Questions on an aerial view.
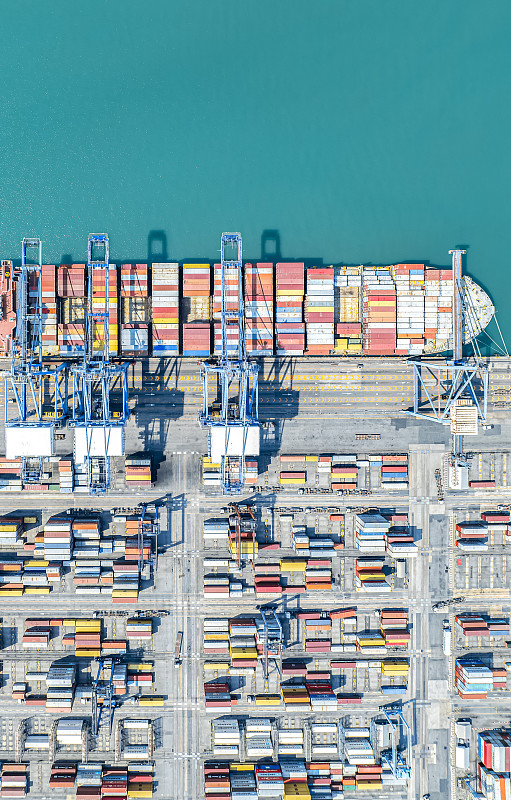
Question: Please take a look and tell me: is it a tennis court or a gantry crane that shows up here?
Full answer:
I can see a gantry crane in this picture.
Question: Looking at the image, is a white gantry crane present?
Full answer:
Yes, the picture does show a white gantry crane.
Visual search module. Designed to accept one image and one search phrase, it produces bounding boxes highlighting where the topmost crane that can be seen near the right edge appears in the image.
[397,250,488,490]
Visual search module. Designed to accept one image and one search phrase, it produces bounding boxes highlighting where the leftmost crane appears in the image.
[0,234,81,483]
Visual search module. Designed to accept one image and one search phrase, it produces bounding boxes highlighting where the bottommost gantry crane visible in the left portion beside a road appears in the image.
[91,657,120,738]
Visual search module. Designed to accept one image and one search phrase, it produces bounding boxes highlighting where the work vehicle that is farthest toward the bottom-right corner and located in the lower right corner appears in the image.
[454,770,477,800]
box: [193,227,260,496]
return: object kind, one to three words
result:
container crane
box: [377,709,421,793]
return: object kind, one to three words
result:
container crane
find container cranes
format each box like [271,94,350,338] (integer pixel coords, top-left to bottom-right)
[136,505,163,576]
[193,227,260,496]
[397,250,488,490]
[230,505,260,576]
[256,609,287,684]
[65,228,138,497]
[0,234,81,483]
[91,657,120,738]
[377,709,421,793]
